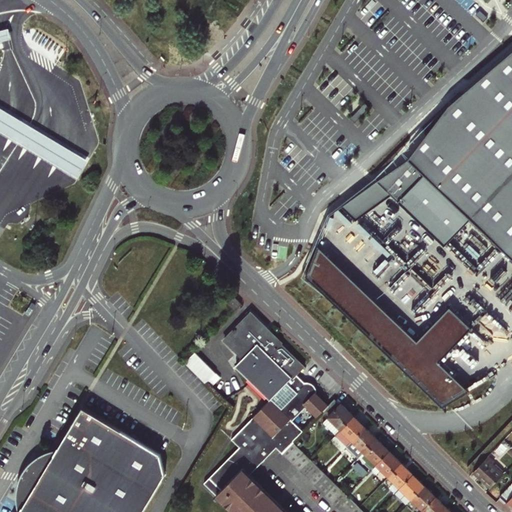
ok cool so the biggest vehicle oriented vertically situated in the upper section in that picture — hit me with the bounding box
[232,131,245,162]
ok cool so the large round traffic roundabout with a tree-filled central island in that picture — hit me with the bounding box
[112,76,252,216]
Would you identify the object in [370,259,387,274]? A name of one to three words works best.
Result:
vehicle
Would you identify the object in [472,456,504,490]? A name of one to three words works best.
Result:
house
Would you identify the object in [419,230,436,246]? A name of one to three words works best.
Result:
vehicle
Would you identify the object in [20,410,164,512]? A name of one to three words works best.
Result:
building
